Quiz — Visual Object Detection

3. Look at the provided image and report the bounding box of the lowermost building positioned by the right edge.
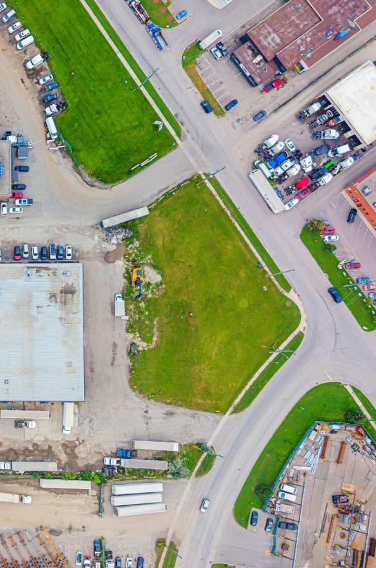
[341,166,376,249]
